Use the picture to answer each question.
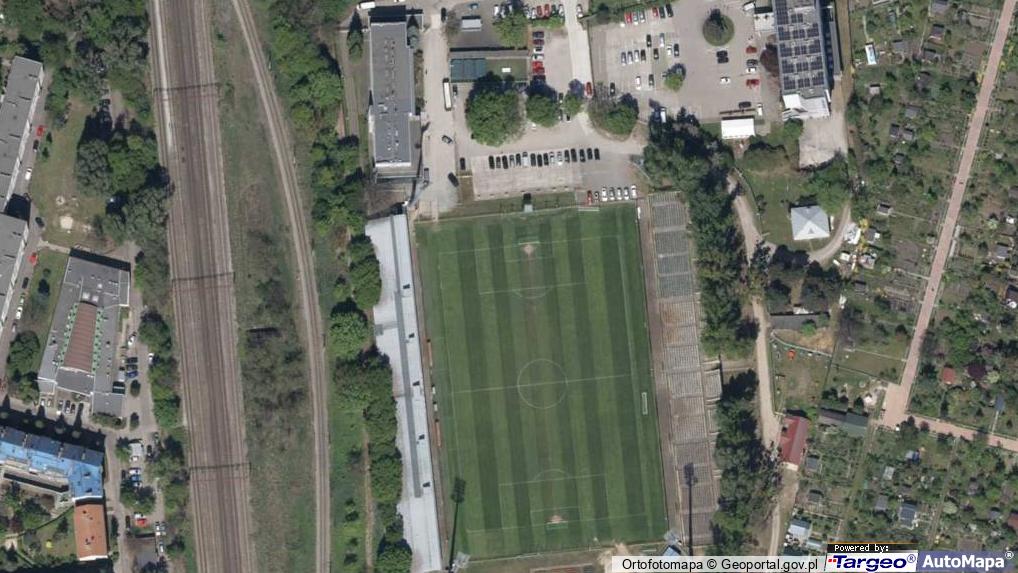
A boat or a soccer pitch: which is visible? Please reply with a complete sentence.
Visible in the photo is a soccer pitch.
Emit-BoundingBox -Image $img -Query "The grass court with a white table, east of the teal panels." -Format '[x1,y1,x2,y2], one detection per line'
[486,59,526,83]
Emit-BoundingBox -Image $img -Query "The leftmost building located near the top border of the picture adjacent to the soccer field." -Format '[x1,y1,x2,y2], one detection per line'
[368,14,423,183]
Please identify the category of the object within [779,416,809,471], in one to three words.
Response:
house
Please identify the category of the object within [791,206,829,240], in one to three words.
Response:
building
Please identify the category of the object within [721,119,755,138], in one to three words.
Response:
tent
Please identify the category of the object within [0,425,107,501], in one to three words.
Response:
house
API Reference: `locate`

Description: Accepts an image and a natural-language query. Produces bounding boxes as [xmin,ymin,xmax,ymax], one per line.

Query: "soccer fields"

[419,203,667,562]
